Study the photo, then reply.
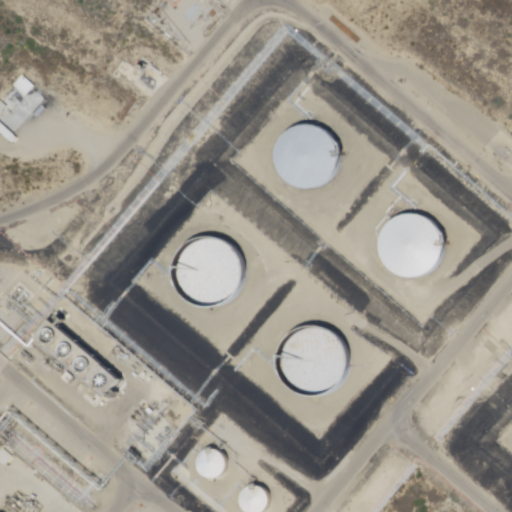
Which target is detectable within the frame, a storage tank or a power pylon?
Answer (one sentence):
Looking from above, you can make out a storage tank.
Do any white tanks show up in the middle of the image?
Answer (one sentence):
Yes, I can see a white tank in the middle of the image.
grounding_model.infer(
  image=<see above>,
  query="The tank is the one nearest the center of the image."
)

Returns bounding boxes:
[170,235,246,308]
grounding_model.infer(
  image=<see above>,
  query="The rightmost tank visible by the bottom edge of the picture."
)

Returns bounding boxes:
[238,484,272,512]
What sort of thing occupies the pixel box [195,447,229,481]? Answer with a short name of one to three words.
storage tank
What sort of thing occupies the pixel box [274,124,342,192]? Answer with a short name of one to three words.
storage tank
